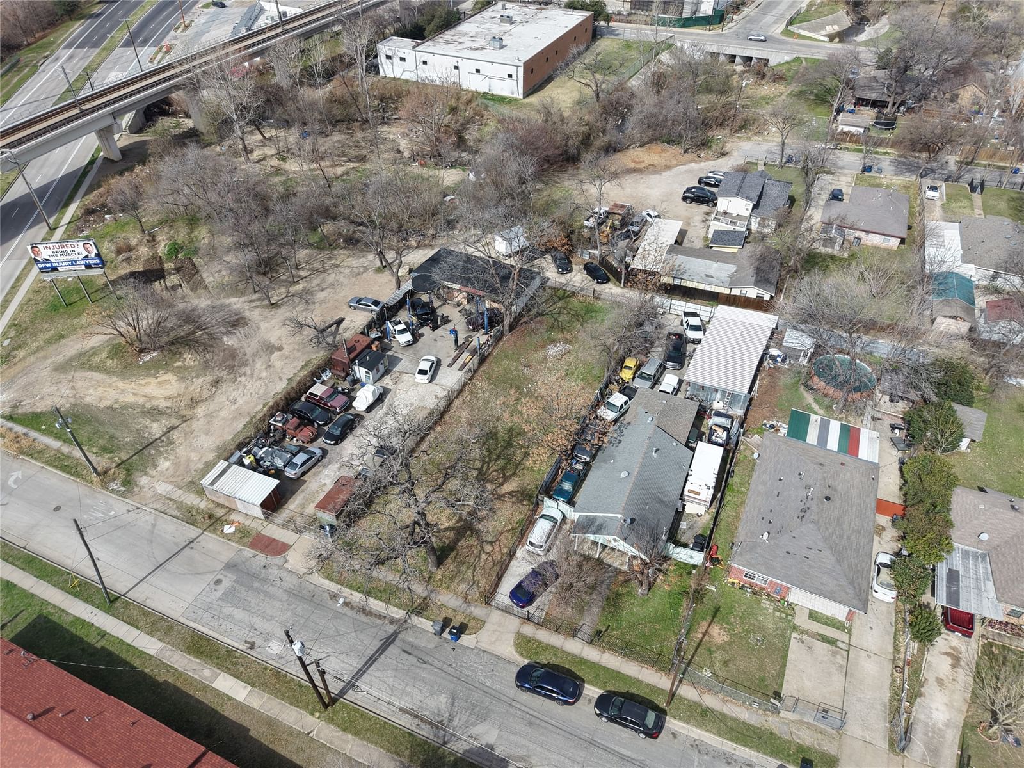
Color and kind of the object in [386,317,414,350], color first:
white vehicle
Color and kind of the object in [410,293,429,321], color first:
black car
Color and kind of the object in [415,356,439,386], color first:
white car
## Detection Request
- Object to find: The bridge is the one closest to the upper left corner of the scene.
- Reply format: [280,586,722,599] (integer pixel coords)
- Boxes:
[0,0,433,175]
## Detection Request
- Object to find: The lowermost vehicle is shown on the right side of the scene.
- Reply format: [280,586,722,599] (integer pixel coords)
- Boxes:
[594,696,666,739]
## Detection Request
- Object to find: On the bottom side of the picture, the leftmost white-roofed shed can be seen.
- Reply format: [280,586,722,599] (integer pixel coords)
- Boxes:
[198,457,282,519]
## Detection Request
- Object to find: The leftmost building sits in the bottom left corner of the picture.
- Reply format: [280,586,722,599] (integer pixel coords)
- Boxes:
[0,633,238,768]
